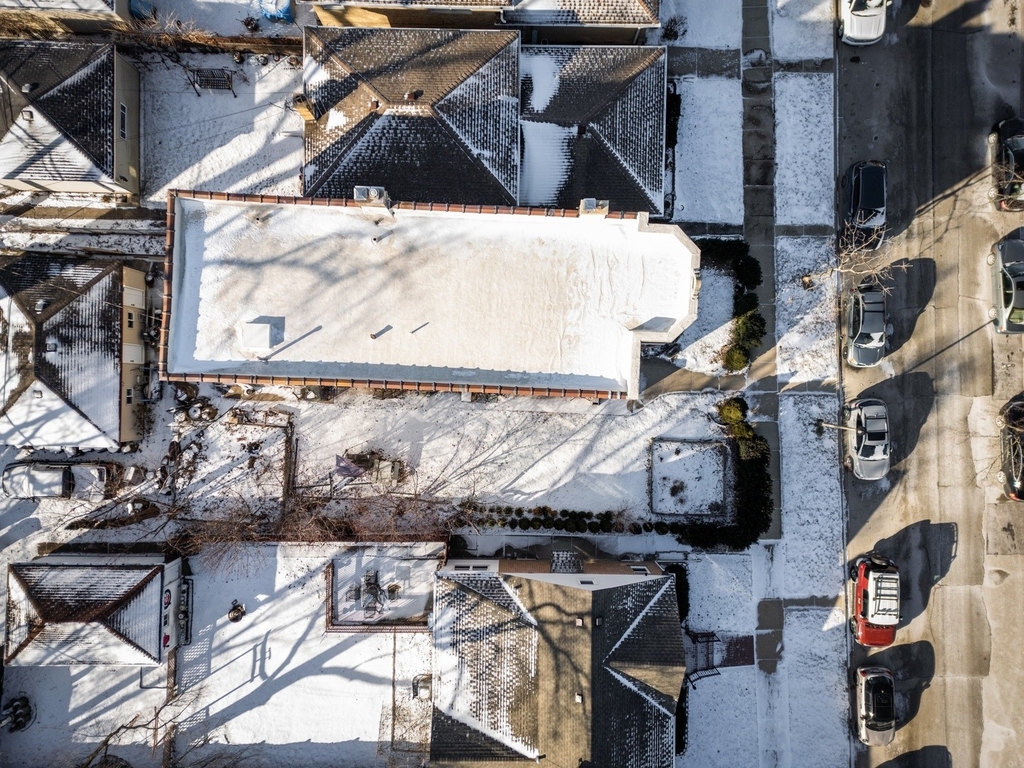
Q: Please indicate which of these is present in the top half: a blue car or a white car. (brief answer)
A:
white car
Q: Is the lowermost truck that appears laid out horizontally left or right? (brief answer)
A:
left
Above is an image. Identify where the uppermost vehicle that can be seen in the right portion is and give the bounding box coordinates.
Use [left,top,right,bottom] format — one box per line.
[840,0,890,50]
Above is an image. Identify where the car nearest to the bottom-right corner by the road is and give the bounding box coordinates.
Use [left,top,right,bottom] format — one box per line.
[854,664,901,746]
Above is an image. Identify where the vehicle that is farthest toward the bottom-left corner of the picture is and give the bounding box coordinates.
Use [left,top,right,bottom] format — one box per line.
[7,460,116,505]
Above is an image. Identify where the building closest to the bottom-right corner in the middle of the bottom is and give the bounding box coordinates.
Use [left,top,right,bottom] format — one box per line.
[430,543,686,768]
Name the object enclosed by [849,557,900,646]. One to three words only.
car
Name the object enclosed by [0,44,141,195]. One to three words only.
building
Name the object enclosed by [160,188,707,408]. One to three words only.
building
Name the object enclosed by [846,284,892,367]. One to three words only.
car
